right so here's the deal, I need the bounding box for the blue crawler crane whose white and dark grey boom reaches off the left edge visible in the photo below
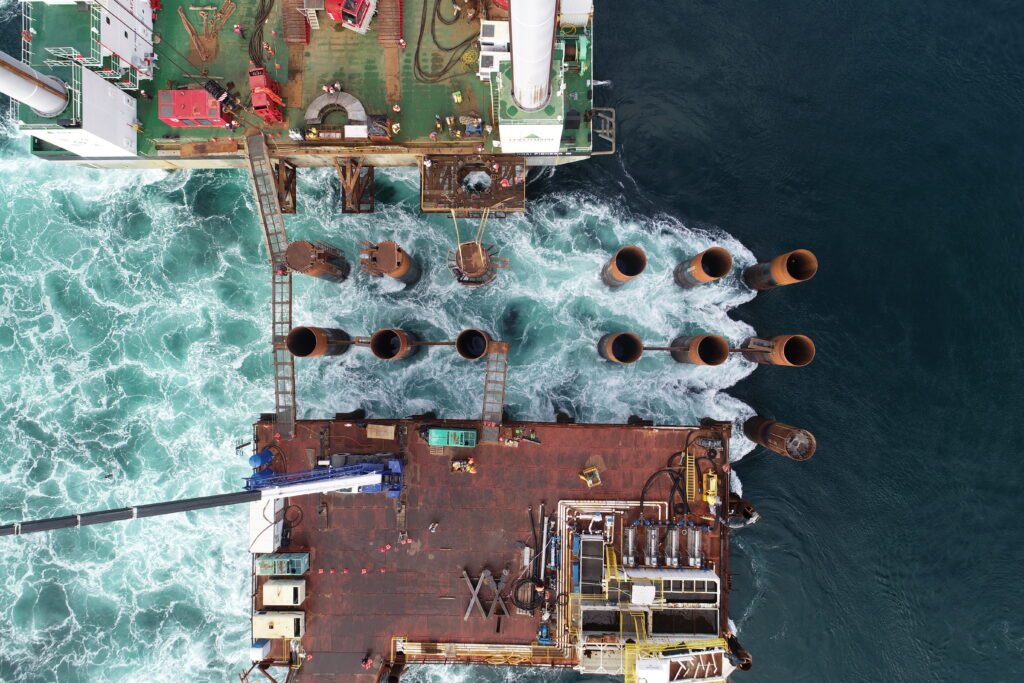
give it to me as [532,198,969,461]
[0,451,406,537]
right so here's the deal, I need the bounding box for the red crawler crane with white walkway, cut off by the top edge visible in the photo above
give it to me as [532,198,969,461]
[283,0,407,49]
